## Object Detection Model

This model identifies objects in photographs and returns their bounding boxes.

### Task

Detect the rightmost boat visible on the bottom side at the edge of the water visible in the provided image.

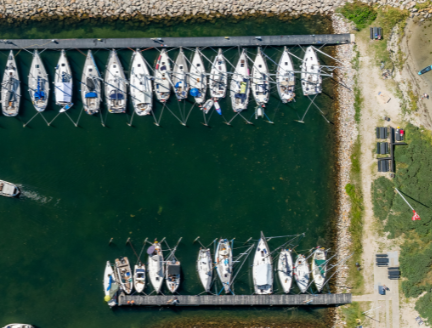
[310,248,338,294]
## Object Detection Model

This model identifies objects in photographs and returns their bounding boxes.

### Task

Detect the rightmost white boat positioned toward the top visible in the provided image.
[299,44,334,121]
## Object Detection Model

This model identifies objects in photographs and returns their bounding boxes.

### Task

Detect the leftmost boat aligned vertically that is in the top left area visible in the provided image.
[0,49,22,121]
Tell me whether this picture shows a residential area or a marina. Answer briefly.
marina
